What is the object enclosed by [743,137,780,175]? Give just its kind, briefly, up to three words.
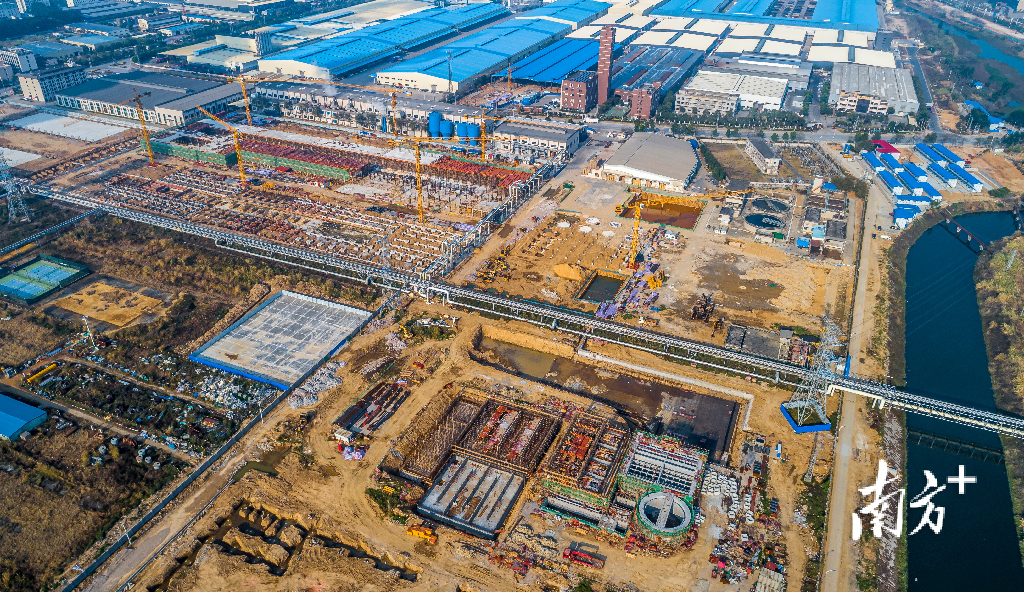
building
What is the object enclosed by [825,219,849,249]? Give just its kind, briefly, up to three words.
house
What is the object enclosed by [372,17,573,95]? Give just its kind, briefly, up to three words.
building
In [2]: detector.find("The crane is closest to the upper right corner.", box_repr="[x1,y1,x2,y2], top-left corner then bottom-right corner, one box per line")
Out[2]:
[614,188,755,271]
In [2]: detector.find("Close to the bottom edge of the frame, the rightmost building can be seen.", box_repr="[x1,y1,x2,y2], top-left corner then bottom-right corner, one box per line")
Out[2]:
[753,564,790,592]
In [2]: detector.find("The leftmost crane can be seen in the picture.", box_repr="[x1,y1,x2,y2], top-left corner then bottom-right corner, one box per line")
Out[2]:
[63,89,159,168]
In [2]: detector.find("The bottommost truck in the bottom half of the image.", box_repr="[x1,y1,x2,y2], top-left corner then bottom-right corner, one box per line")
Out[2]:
[563,548,604,570]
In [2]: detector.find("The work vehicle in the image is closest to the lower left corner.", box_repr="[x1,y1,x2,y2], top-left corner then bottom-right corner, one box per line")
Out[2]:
[296,410,309,430]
